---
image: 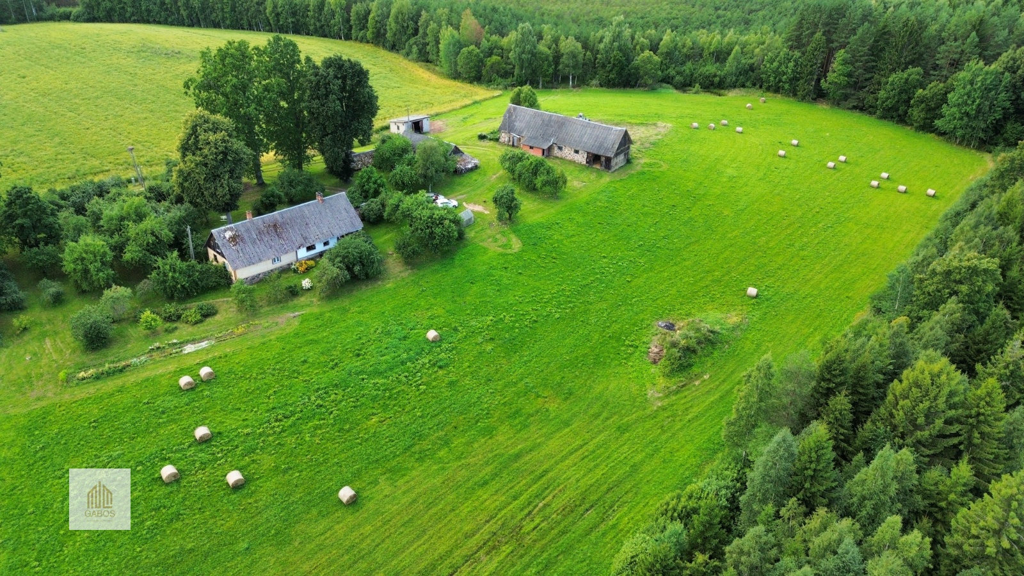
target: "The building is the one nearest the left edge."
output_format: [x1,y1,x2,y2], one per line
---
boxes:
[203,191,365,286]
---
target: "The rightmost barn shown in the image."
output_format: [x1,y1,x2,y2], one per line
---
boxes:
[497,103,634,172]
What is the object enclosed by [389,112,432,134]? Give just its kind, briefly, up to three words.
building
